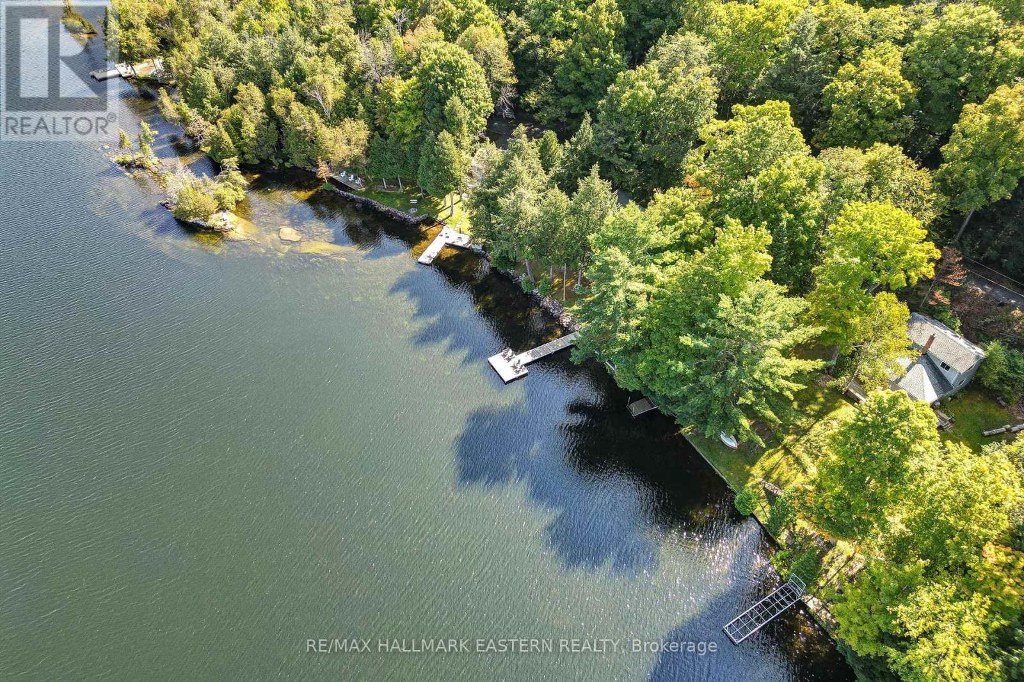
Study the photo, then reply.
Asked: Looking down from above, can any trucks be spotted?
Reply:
No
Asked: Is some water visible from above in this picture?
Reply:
Yes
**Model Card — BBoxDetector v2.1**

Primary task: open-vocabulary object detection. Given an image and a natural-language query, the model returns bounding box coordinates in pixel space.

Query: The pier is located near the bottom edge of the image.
[723,571,813,648]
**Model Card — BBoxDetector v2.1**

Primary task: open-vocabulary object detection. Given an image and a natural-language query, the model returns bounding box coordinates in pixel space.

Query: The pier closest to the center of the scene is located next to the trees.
[489,330,592,385]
